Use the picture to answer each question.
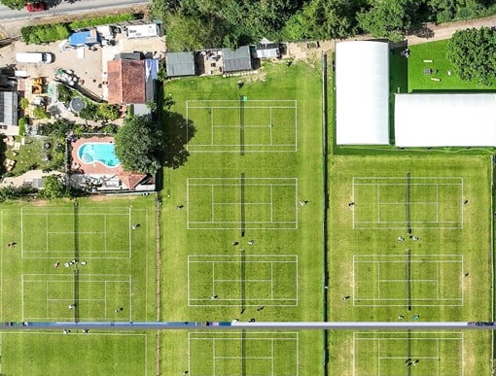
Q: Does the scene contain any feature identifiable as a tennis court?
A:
Yes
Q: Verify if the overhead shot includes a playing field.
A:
Yes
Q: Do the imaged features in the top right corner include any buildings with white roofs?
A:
Yes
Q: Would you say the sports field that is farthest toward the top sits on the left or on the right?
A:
left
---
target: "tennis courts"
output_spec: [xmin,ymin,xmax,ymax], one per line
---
[353,255,463,305]
[187,255,298,305]
[353,333,463,376]
[22,275,131,325]
[22,207,131,259]
[188,333,298,376]
[187,100,296,150]
[187,178,296,229]
[353,178,463,228]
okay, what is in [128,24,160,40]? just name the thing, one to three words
camper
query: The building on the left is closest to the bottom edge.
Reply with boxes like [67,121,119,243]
[119,173,151,190]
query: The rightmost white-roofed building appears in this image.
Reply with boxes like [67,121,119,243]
[395,93,496,148]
